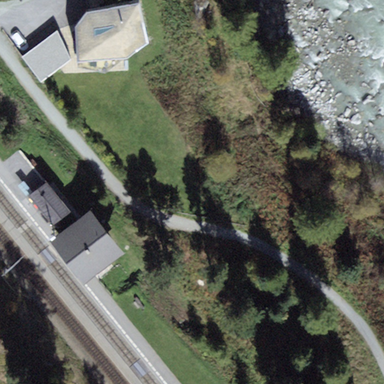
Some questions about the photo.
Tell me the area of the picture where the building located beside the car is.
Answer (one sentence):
You can find the building located beside the car in the top left area of the picture.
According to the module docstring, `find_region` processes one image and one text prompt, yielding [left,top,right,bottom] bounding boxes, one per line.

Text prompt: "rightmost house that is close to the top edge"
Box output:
[76,0,148,70]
